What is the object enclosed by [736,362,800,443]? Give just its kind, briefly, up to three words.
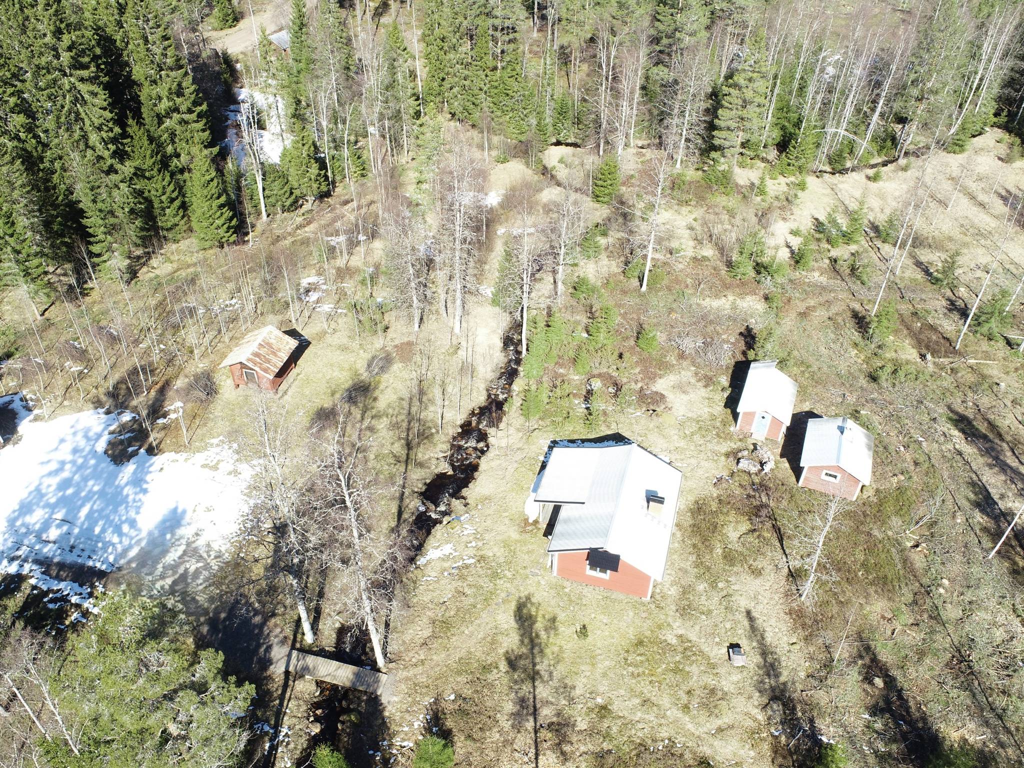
building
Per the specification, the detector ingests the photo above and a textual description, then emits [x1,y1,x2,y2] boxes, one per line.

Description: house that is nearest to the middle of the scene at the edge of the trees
[533,442,683,598]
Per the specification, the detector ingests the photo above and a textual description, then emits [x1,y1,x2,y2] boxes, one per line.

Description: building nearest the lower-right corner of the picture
[798,416,874,501]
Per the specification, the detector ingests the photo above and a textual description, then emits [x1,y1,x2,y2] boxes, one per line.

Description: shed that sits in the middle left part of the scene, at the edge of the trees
[216,324,299,395]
